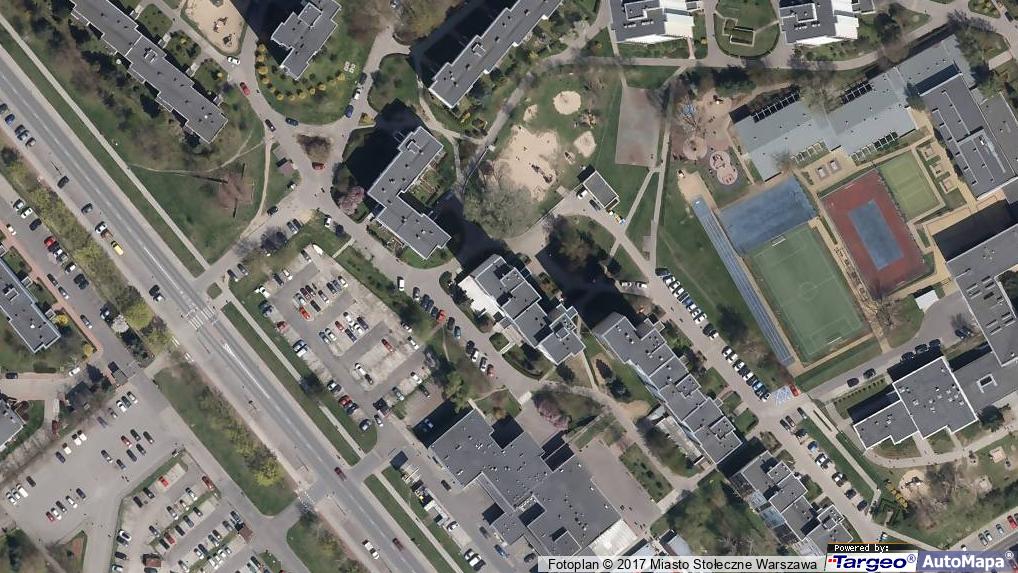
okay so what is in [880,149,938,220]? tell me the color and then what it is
green tennis court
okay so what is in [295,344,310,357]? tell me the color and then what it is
white vehicle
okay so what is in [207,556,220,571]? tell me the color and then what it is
white vehicle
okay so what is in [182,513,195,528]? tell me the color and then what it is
gray vehicle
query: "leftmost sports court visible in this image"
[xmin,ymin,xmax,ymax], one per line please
[720,177,817,256]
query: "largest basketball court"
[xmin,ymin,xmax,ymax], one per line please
[820,169,926,291]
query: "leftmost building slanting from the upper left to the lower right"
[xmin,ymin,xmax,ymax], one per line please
[0,249,64,354]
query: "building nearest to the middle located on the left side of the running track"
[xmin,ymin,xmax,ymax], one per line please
[458,253,585,370]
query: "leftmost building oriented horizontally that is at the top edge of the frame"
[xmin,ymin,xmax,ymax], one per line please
[608,0,705,46]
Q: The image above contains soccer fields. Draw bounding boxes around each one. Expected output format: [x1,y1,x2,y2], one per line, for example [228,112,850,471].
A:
[748,224,868,364]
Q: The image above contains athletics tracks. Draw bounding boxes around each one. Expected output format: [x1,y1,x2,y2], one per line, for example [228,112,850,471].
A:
[692,197,795,366]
